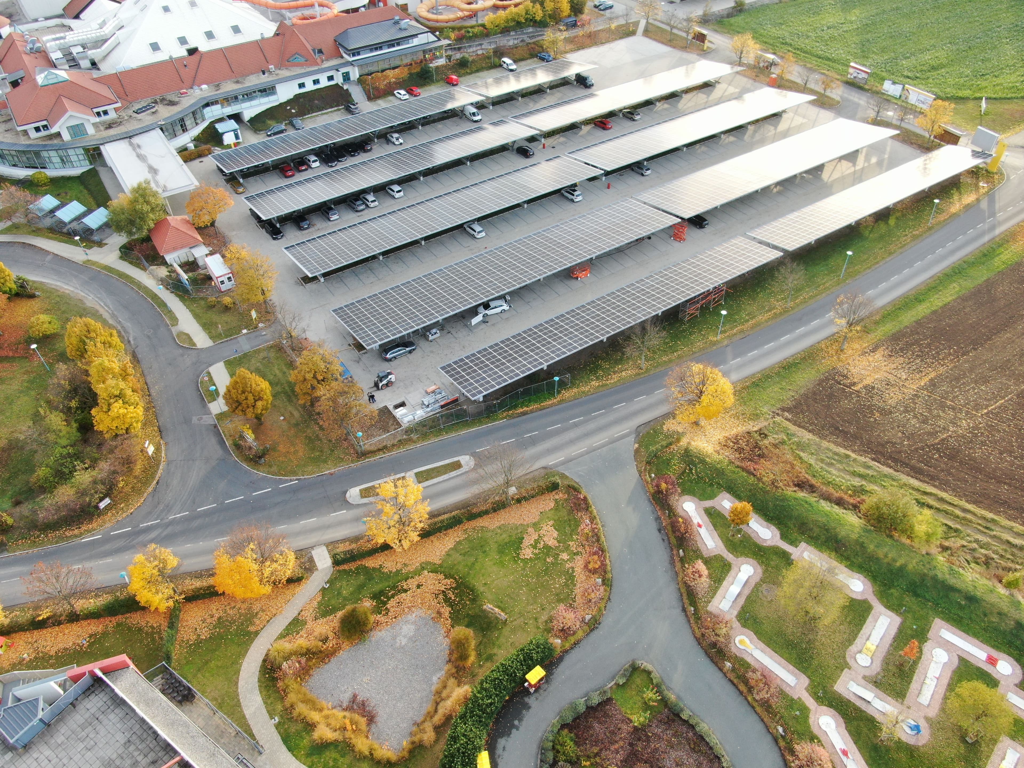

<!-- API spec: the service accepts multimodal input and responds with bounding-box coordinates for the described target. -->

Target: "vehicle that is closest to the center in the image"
[475,294,510,320]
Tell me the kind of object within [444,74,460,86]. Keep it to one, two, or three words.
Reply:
vehicle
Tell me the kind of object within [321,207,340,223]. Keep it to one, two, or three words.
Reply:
car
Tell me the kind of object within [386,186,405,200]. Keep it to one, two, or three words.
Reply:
car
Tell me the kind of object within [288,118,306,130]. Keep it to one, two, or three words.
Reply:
vehicle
